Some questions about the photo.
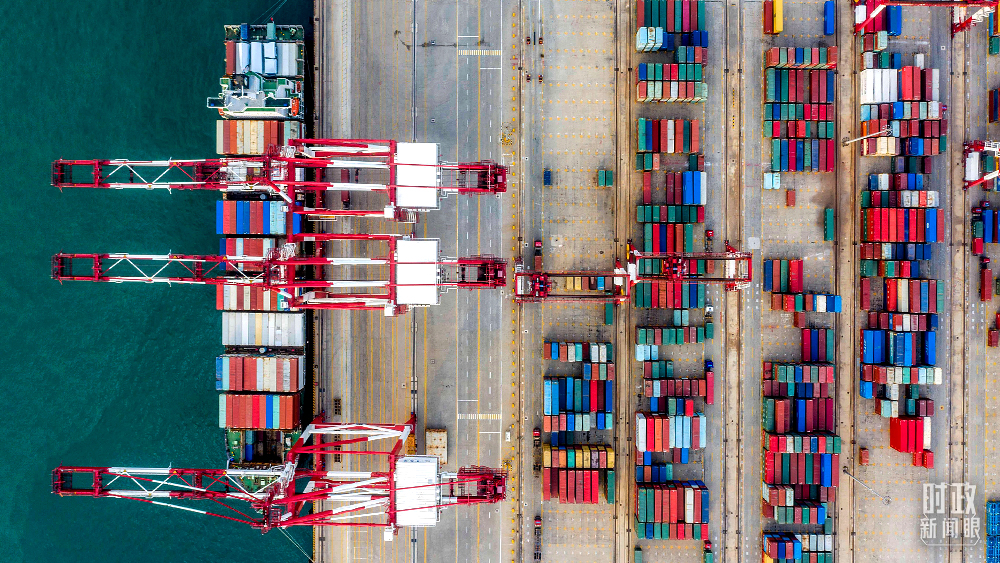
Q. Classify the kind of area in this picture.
port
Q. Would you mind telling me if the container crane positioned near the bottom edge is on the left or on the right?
left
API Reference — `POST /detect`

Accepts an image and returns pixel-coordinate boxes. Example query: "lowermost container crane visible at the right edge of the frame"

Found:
[963,137,1000,196]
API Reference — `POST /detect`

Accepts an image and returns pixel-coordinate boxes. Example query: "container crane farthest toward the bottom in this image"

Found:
[48,407,508,543]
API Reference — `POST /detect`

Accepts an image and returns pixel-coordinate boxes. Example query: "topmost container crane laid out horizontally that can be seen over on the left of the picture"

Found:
[49,136,509,227]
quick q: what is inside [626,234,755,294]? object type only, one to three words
container crane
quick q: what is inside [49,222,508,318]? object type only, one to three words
container crane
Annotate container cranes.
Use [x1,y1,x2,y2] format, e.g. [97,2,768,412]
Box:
[963,137,1000,196]
[626,234,755,294]
[49,136,509,227]
[515,252,636,311]
[48,407,508,543]
[49,222,508,318]
[853,0,1000,41]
